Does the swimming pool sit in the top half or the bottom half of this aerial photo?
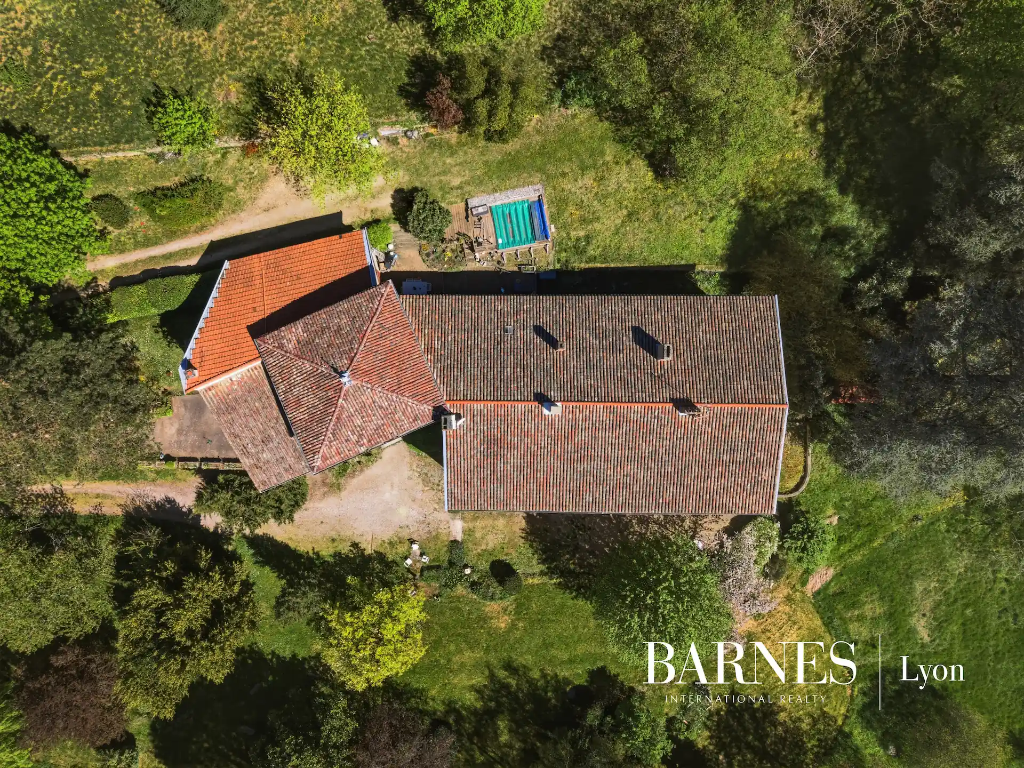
top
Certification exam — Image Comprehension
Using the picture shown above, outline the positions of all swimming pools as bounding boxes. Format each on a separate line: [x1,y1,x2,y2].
[488,193,554,262]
